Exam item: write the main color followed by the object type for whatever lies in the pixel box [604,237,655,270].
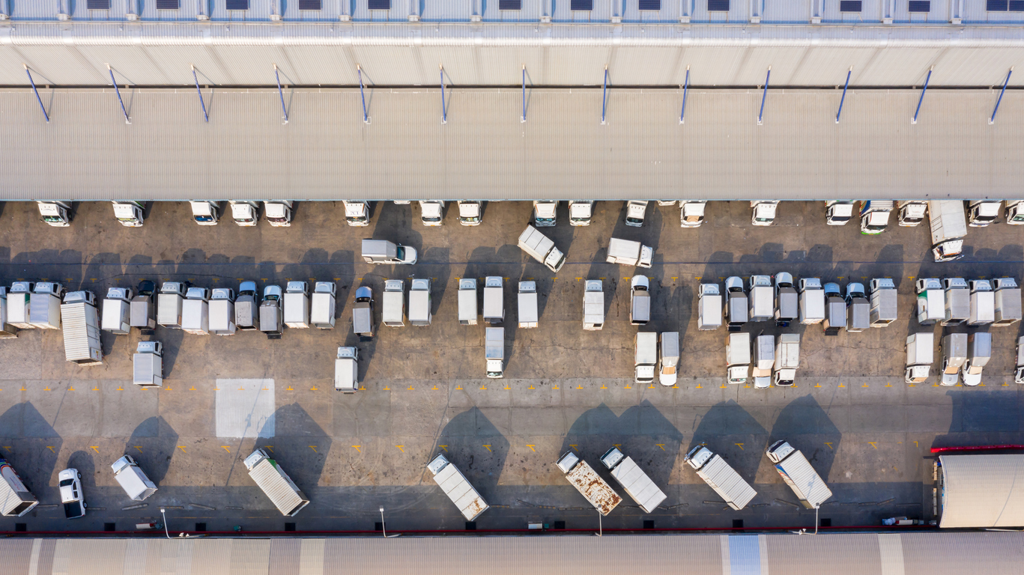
white truck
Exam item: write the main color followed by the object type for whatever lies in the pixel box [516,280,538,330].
white truck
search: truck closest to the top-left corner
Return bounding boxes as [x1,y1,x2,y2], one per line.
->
[38,202,70,228]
